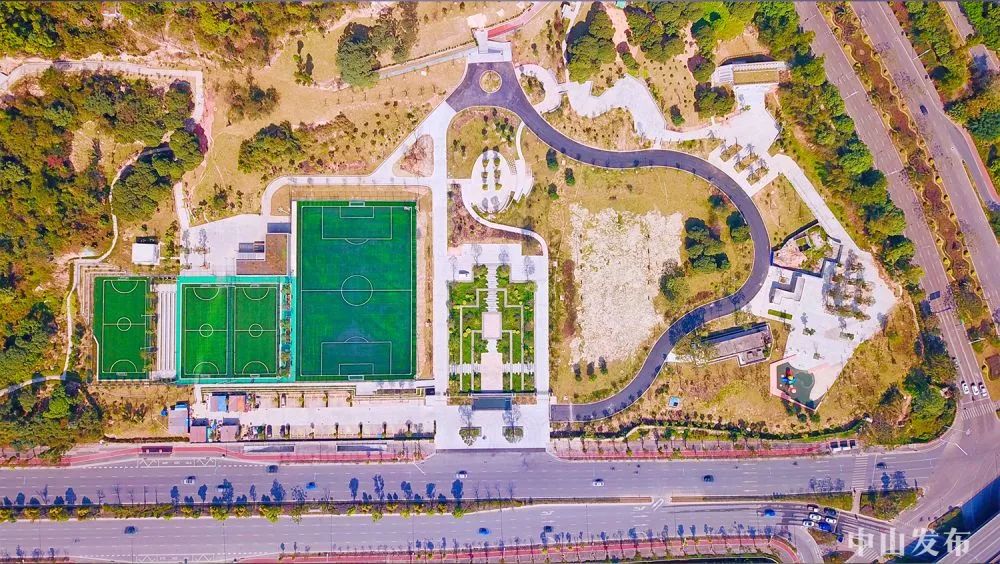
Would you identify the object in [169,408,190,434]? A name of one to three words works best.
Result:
shed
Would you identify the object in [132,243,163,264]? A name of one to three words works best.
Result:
shed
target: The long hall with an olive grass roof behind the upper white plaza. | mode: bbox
[717,62,788,87]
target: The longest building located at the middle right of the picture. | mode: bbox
[697,320,771,358]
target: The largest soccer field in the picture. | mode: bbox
[295,202,417,381]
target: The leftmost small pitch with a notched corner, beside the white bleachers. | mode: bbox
[94,276,149,380]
